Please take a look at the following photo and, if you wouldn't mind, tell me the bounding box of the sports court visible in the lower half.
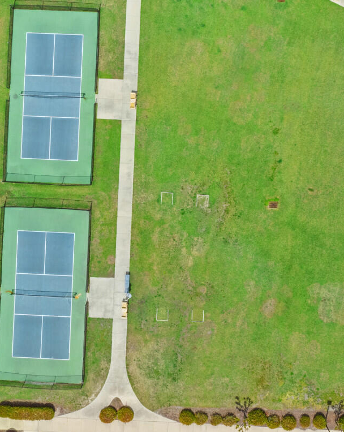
[0,207,89,384]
